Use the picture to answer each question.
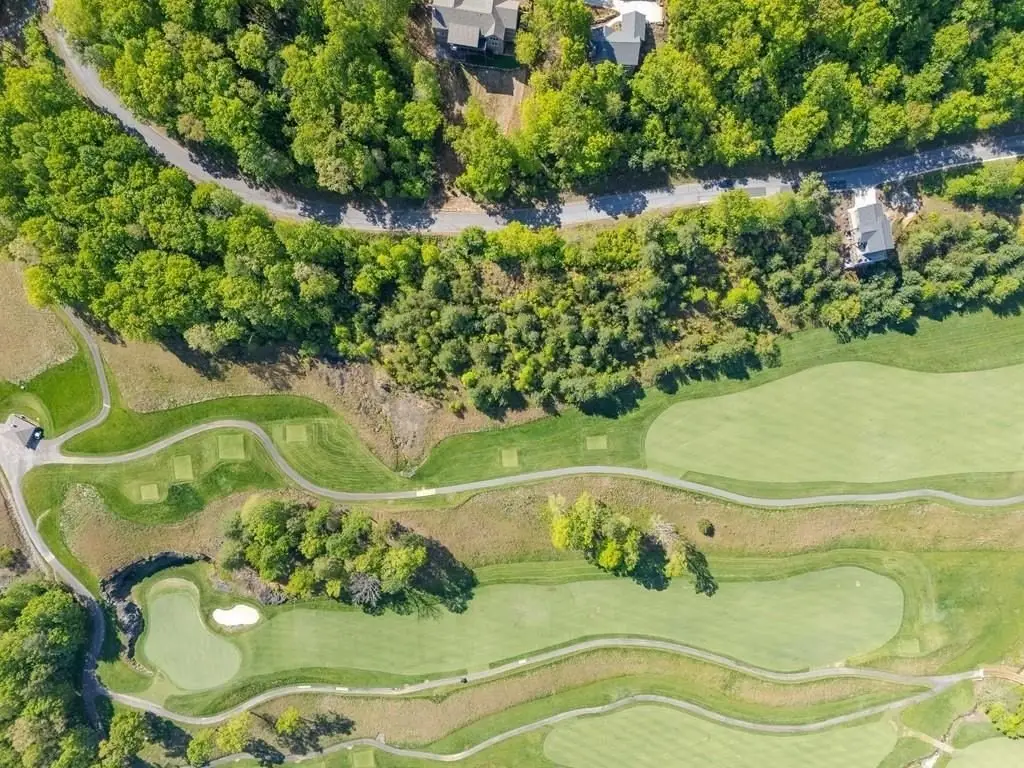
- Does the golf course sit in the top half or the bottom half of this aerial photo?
bottom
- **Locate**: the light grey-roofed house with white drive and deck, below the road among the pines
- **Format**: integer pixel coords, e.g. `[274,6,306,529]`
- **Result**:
[847,205,897,270]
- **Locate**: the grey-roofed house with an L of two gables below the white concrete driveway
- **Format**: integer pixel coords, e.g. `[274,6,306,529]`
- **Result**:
[600,11,645,81]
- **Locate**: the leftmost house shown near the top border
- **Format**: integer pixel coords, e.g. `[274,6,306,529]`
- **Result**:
[437,0,521,59]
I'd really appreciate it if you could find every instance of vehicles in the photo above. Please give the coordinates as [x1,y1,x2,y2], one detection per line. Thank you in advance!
[31,430,40,439]
[459,678,468,686]
[831,179,849,188]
